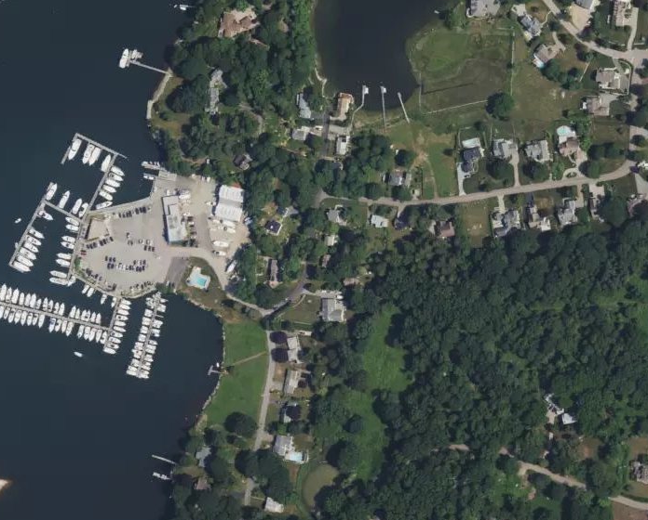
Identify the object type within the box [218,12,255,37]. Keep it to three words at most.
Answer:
house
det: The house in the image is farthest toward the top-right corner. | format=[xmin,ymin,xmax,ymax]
[613,0,635,25]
